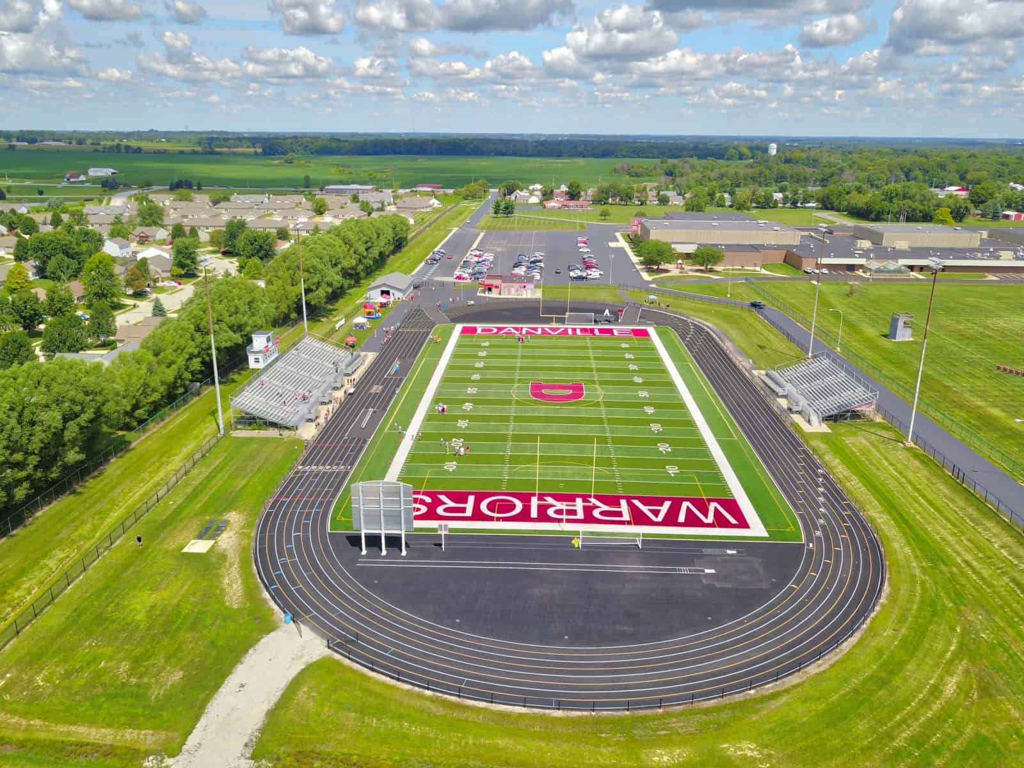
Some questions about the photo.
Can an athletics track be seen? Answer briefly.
Yes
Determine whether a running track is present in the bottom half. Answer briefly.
Yes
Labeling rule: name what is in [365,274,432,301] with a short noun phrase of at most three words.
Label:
building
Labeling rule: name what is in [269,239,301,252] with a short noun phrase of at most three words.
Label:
house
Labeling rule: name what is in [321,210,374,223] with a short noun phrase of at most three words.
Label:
house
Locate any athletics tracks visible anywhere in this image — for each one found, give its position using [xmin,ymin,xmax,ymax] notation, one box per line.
[253,300,887,711]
